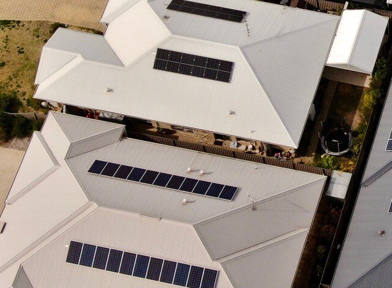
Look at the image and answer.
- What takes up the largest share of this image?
buildings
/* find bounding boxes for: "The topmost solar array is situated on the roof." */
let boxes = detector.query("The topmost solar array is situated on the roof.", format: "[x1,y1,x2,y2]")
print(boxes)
[167,0,246,23]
